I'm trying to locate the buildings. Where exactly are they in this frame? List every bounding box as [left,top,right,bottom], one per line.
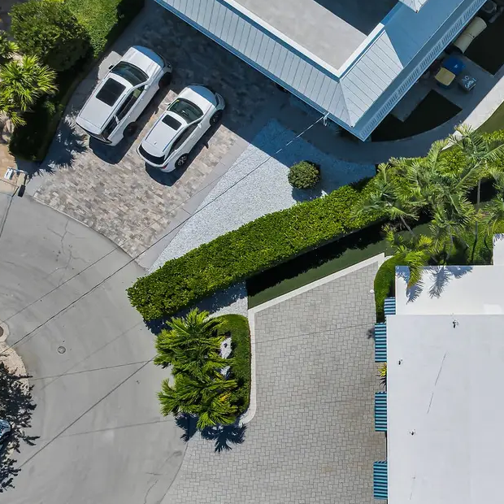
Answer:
[374,233,504,504]
[147,0,488,142]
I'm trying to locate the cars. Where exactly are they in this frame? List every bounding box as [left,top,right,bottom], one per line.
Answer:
[0,420,9,449]
[139,83,225,178]
[81,43,174,150]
